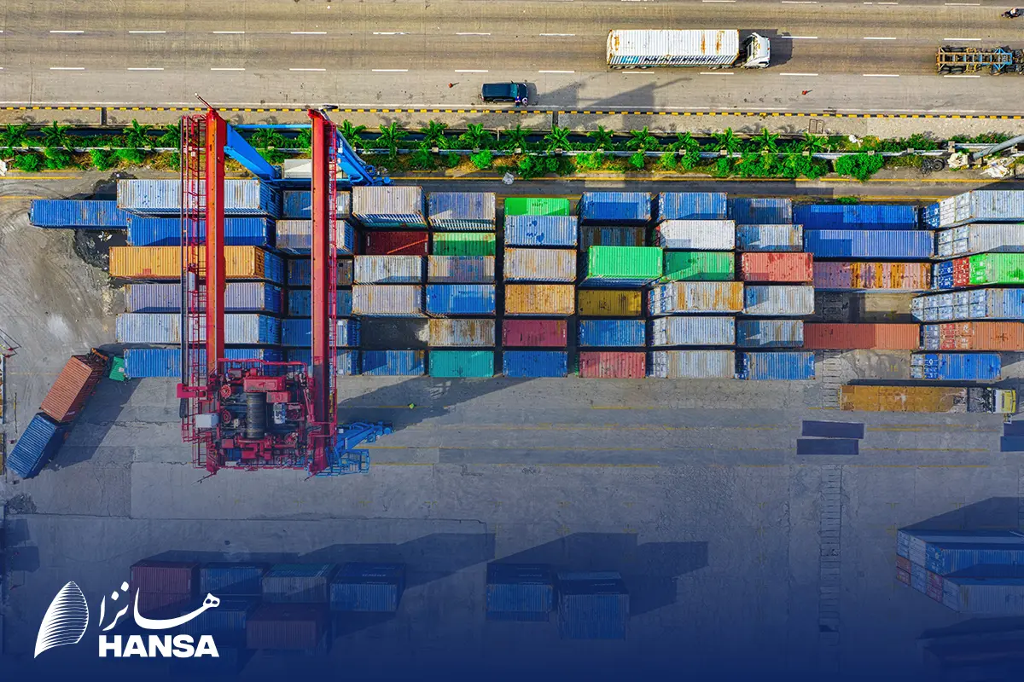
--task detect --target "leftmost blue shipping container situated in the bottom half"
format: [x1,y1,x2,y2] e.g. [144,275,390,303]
[3,411,76,481]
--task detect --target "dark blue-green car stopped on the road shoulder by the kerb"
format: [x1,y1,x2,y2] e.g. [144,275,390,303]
[481,80,529,104]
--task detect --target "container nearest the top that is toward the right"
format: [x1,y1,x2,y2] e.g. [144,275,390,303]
[604,32,739,71]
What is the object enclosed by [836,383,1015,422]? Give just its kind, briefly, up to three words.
truck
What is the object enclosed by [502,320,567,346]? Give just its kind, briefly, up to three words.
shipping container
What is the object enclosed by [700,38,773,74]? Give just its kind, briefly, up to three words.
truck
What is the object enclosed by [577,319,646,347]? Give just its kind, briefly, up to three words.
shipping container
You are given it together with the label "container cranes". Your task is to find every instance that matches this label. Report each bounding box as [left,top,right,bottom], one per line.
[166,88,413,486]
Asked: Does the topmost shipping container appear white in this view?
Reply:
Yes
